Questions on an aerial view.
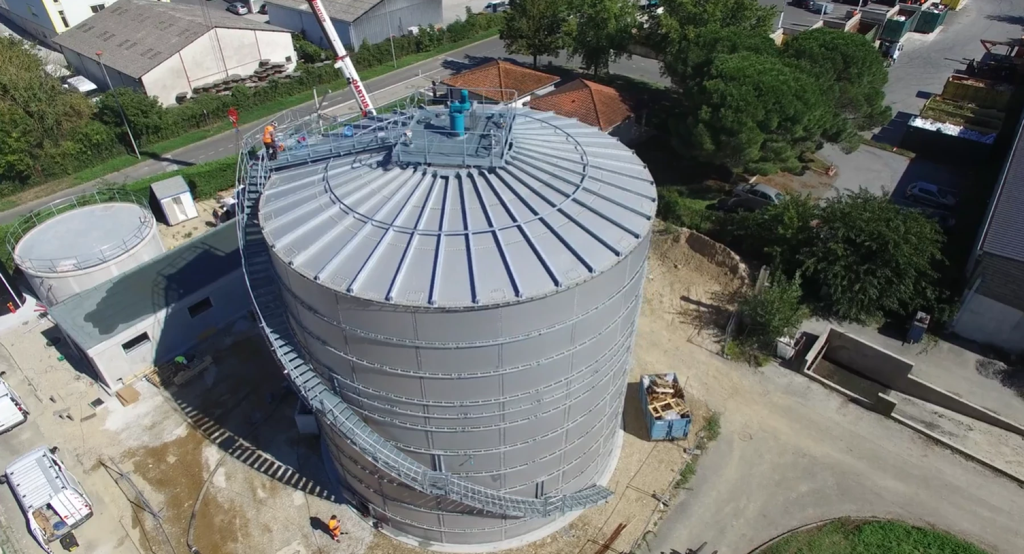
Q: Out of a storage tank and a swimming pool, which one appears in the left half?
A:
storage tank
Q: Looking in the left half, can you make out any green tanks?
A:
No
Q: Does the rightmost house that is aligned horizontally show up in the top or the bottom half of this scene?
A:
top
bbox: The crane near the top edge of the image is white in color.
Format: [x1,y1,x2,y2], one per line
[300,0,395,141]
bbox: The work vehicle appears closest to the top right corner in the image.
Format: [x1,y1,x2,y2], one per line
[988,38,1024,73]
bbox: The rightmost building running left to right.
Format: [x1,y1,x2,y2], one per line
[532,85,638,144]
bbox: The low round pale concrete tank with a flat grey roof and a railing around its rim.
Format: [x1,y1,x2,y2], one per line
[6,184,176,319]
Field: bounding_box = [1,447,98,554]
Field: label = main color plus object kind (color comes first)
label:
white van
